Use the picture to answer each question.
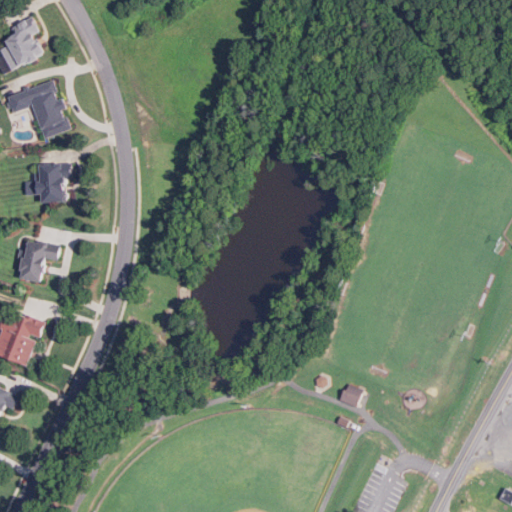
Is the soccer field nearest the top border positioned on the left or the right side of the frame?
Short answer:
right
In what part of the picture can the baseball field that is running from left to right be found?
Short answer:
bottom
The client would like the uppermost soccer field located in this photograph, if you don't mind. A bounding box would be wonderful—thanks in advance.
[338,84,512,385]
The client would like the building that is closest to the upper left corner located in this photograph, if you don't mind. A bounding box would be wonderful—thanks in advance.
[0,16,46,74]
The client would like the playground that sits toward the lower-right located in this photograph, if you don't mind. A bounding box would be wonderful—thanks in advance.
[402,388,426,411]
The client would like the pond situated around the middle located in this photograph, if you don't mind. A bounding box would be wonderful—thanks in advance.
[190,158,336,362]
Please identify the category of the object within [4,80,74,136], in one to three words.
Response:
house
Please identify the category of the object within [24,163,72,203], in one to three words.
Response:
house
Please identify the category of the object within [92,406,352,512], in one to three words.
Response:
baseball field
